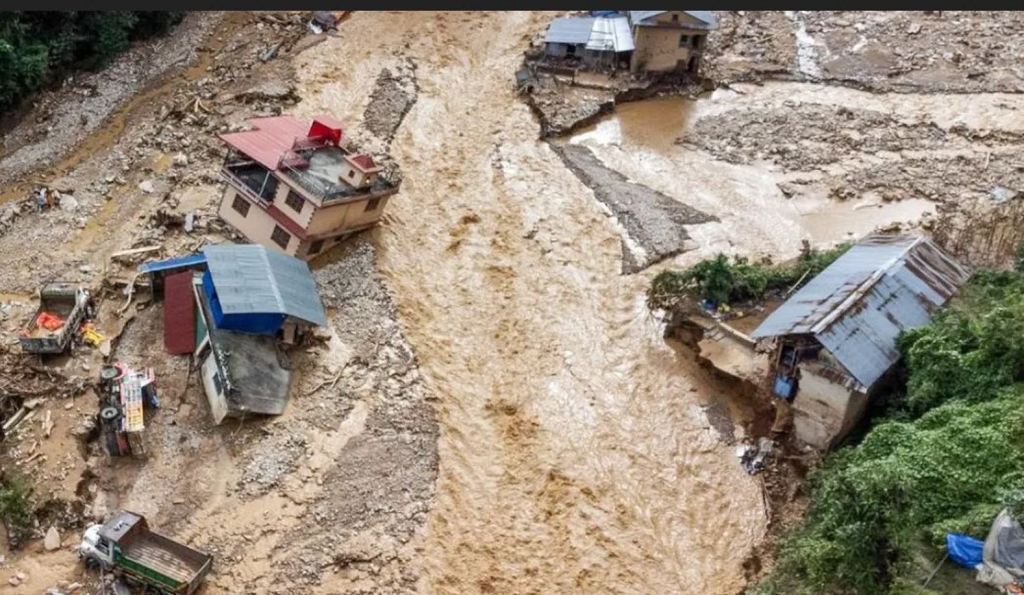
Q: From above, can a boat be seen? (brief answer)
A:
No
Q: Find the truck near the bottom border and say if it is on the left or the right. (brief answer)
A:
left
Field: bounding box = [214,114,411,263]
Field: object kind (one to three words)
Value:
house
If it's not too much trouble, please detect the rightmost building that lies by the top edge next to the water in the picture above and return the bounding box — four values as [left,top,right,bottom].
[626,0,717,79]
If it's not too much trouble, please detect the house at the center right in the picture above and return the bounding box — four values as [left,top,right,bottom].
[744,232,963,448]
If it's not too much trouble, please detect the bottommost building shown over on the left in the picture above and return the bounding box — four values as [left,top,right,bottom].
[199,295,291,420]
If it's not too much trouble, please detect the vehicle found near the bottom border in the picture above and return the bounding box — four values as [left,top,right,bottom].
[79,509,214,595]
